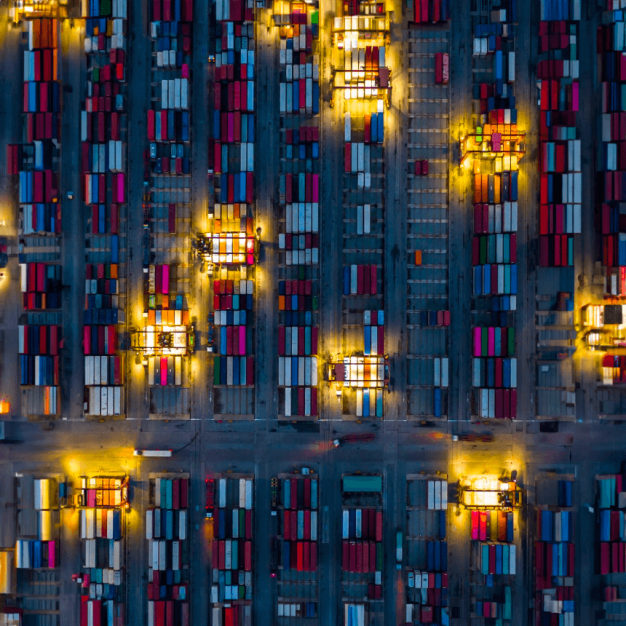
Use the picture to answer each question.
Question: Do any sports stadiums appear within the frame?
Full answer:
No, there isn't any sports stadium down there.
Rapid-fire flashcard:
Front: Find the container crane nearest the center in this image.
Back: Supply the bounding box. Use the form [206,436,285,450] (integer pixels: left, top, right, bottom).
[328,355,392,386]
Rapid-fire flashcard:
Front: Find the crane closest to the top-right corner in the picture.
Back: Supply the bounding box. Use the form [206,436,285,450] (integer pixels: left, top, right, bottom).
[458,131,528,166]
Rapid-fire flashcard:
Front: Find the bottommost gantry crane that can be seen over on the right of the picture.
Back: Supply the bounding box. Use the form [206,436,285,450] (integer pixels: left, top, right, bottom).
[458,474,528,509]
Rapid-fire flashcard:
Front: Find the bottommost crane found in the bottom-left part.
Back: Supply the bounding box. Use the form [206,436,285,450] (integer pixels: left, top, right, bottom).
[61,473,132,509]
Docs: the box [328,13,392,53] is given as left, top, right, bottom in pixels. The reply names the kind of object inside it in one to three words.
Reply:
container crane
